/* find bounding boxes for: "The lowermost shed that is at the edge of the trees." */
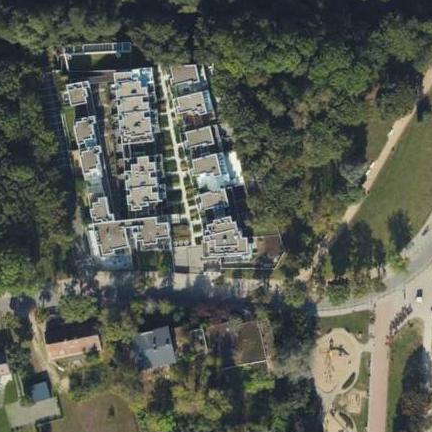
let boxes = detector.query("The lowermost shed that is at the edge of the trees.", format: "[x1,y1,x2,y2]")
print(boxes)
[32,381,53,402]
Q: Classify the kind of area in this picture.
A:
residential area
